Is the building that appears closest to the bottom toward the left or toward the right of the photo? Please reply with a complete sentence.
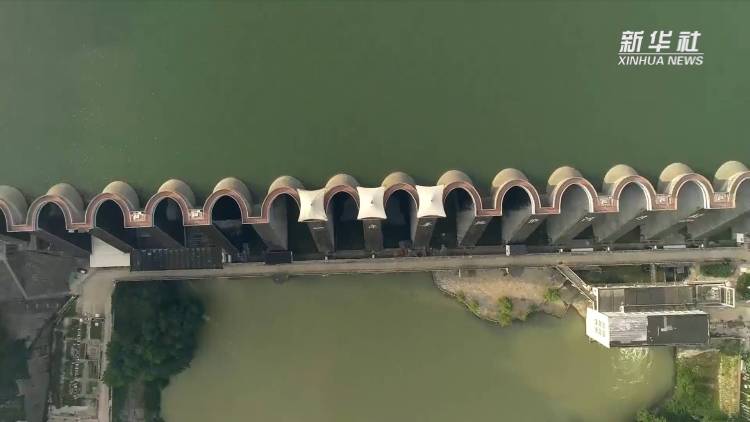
You can find the building that appears closest to the bottom on the right side of the picture.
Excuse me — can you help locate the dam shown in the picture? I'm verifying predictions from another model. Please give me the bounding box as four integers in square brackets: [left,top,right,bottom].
[0,160,750,260]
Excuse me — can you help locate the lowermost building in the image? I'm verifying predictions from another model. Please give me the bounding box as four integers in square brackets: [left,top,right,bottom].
[588,306,711,349]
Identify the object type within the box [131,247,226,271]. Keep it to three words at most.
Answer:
shed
